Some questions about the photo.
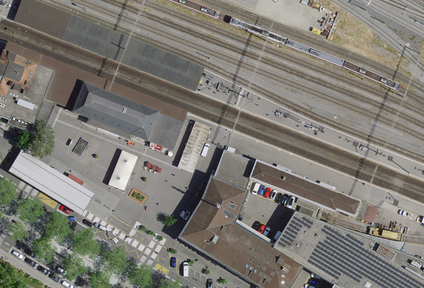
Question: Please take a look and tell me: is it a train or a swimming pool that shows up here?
train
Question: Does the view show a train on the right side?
Yes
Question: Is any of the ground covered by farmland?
No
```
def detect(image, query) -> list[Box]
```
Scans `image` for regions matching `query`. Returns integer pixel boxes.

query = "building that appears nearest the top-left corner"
[0,48,54,130]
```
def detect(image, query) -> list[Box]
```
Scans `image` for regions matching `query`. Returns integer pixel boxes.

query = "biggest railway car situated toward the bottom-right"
[382,230,402,242]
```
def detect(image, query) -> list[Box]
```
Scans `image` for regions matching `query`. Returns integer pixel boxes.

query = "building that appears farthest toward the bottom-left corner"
[109,150,138,190]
